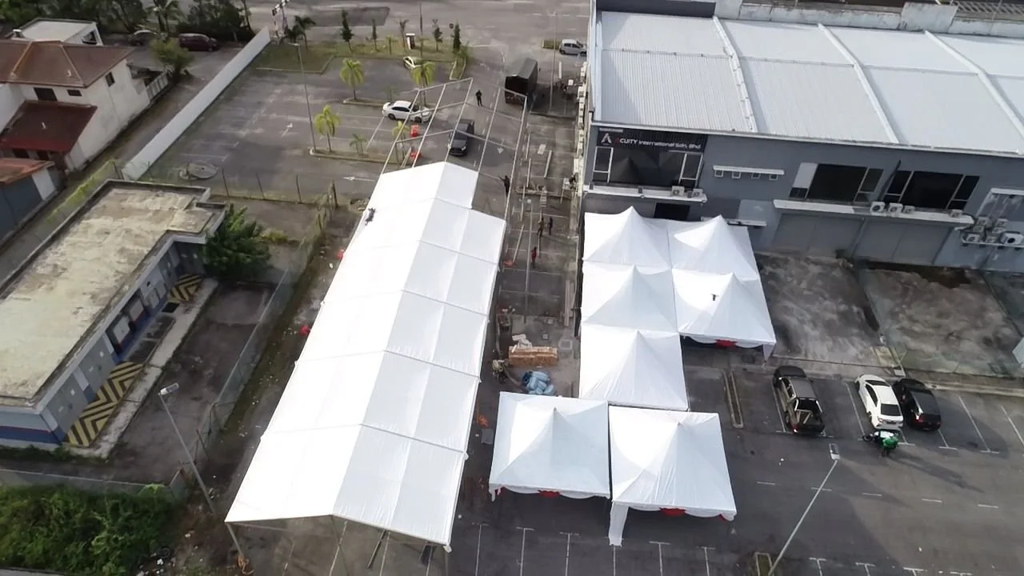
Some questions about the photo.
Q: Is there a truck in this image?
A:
Yes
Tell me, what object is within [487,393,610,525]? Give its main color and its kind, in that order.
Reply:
white tent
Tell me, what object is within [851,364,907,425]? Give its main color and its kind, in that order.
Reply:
white car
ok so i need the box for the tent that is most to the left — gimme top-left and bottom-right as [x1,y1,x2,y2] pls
[217,76,526,576]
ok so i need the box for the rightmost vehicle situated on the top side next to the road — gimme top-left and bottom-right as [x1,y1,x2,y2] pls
[561,39,586,56]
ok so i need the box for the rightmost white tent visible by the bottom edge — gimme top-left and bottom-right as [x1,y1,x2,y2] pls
[607,406,739,548]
